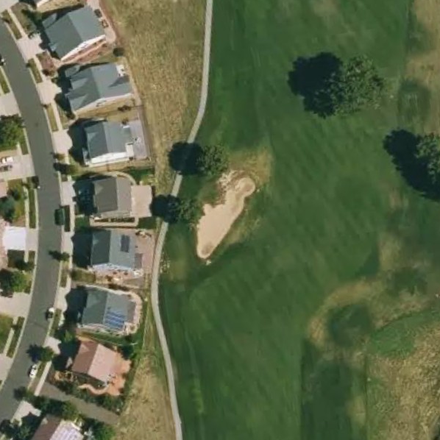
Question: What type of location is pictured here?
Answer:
golf course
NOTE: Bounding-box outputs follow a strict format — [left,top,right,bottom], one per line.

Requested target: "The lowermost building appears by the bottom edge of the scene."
[29,409,90,440]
